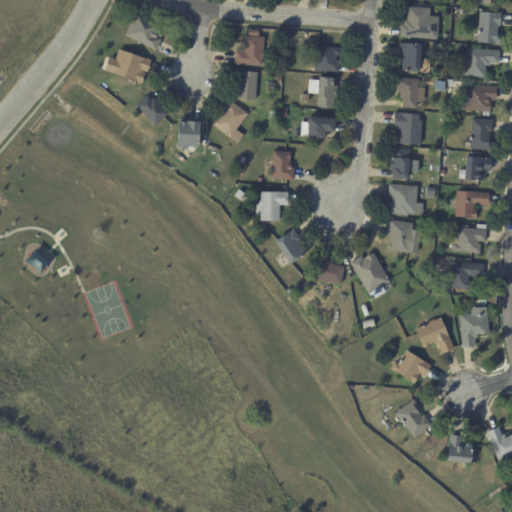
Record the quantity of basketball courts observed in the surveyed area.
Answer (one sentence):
My tally gives 1 basketball court in this photo.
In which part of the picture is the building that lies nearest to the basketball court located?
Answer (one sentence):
The building that lies nearest to the basketball court is in the left part of the image.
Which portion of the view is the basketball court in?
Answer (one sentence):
The basketball court is in the left part of the image.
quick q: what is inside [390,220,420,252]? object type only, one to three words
house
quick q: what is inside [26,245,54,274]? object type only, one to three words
building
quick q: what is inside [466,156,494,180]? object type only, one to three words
house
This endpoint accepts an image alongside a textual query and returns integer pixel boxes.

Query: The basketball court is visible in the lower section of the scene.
[84,282,132,339]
